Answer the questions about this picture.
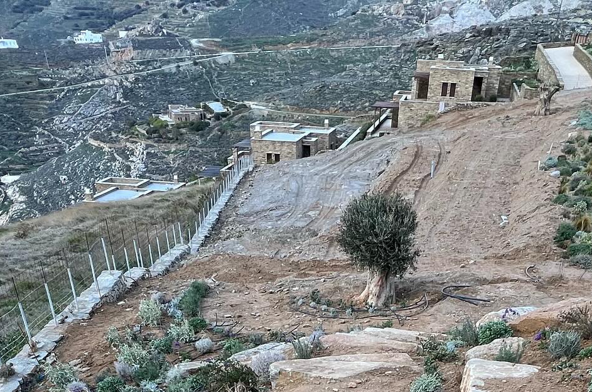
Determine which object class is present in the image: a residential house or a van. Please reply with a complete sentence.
It is a residential house that can be seen here.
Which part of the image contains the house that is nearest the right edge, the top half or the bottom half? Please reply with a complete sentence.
The top half of the photo is where the house that is nearest the right edge is.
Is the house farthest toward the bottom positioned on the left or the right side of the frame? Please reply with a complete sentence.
The house farthest toward the bottom appears in the left half of the scene.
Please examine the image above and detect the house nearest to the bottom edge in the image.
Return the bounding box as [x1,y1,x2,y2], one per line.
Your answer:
[84,170,193,203]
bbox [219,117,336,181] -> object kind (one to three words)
house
